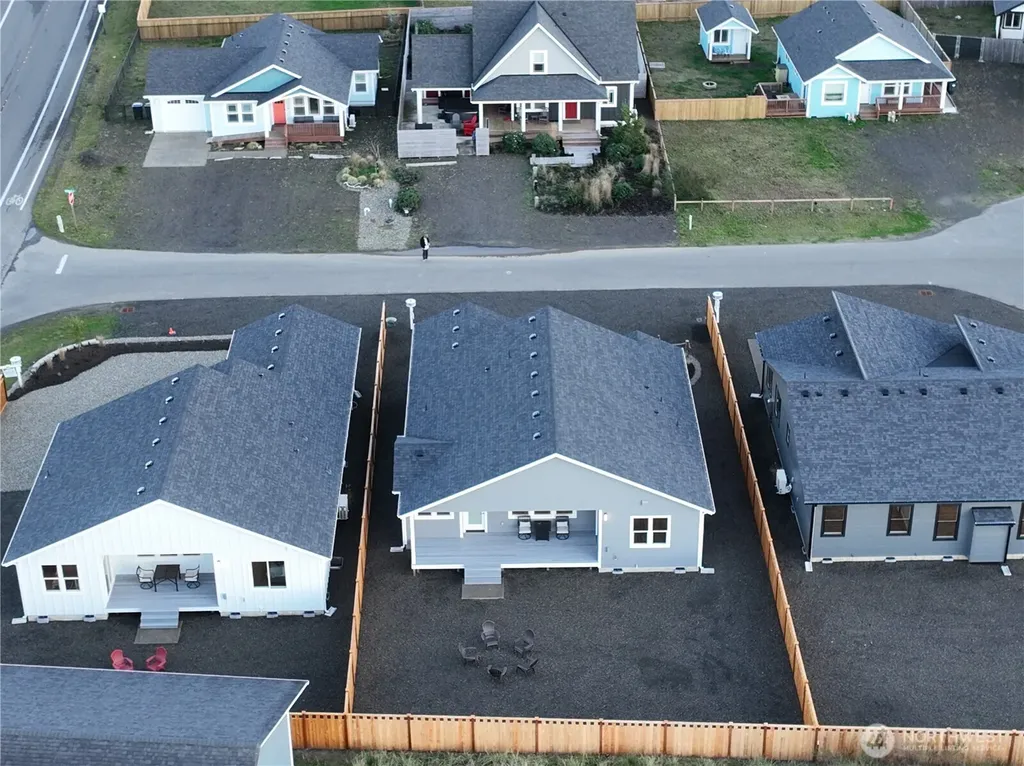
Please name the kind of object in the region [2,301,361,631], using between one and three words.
house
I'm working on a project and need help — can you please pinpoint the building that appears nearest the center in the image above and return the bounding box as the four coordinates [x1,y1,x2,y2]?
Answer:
[391,300,718,585]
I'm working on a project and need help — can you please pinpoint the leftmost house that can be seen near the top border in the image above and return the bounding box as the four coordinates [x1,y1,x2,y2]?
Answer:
[140,10,384,150]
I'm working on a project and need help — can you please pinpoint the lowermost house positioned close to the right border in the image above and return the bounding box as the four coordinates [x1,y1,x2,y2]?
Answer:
[755,288,1024,566]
